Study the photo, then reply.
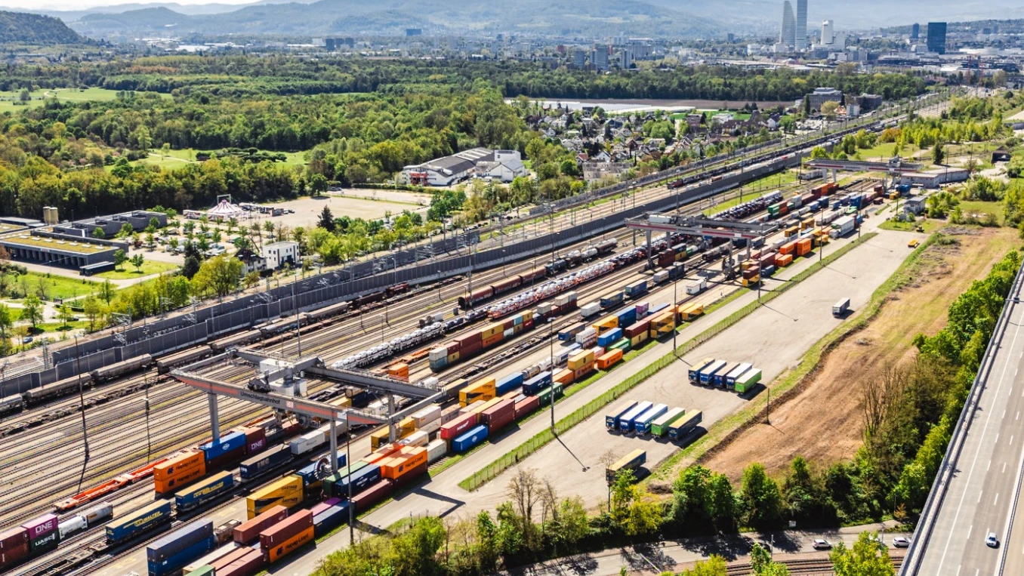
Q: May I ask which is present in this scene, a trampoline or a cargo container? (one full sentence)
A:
I can see a cargo container in this picture.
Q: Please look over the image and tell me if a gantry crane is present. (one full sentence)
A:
Yes, the photo shows a gantry crane.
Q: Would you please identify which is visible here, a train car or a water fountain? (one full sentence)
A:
Looking from above, you can make out a train car.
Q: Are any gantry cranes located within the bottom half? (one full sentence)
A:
Yes, a gantry crane shows up within the bottom half.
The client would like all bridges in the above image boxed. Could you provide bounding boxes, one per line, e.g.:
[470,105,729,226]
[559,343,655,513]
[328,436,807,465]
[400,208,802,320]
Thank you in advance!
[899,307,1024,576]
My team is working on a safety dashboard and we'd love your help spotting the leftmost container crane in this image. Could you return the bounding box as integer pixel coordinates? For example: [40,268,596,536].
[163,350,442,480]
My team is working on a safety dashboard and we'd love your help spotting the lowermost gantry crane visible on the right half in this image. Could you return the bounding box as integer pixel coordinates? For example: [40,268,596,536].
[612,211,787,279]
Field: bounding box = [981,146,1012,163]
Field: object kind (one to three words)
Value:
barn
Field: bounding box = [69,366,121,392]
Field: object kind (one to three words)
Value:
rail car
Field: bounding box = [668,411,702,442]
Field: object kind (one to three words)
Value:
trailer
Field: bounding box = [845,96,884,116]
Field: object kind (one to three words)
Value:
building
